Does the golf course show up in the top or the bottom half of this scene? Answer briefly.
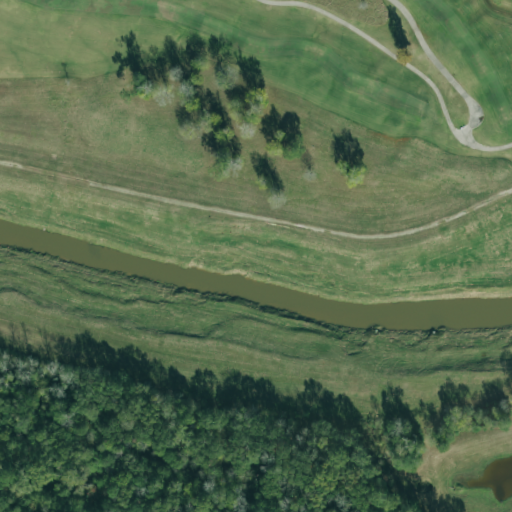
top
